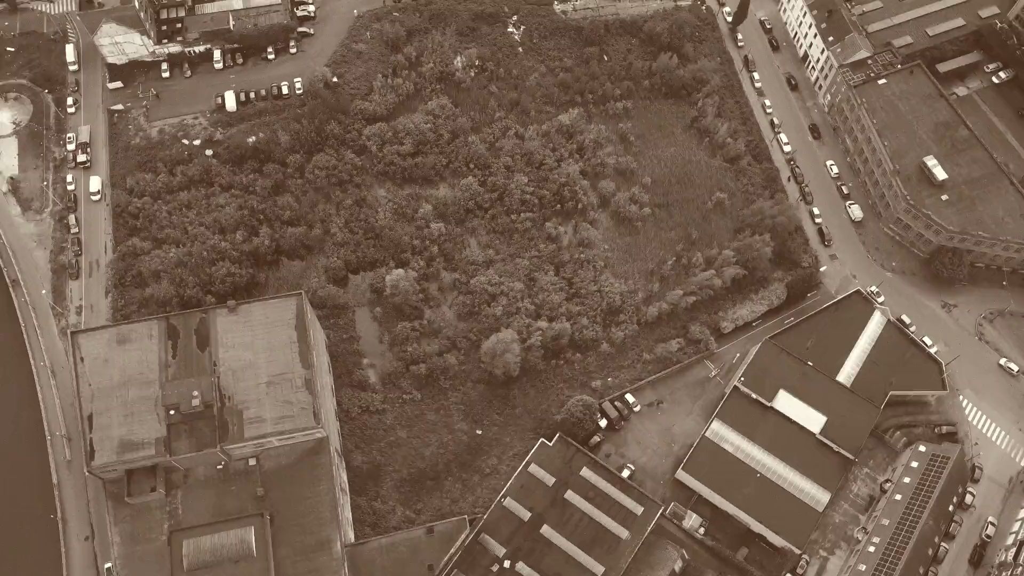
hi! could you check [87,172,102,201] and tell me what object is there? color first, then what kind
white vehicle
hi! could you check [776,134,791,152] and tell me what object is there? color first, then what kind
white car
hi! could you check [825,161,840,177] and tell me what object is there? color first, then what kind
white car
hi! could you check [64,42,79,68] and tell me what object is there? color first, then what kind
white vehicle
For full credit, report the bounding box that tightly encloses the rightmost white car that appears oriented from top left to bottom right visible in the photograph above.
[997,357,1021,377]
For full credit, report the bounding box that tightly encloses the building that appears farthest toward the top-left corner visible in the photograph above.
[133,0,189,44]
